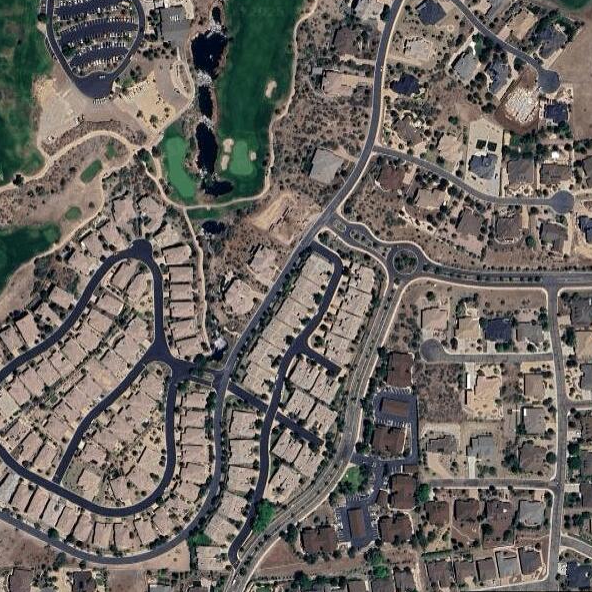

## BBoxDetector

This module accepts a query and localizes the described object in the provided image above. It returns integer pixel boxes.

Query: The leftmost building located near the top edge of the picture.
[158,7,190,46]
